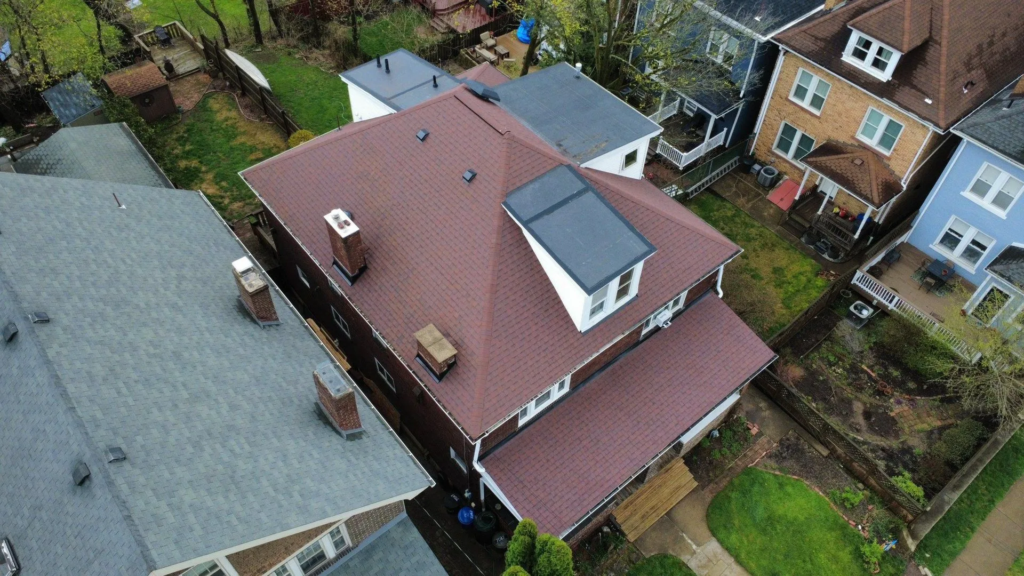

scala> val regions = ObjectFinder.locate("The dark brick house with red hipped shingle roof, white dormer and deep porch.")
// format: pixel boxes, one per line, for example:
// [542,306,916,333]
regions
[237,48,778,554]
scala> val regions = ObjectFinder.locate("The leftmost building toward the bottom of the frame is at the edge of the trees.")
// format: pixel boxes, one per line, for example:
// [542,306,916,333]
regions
[0,171,451,576]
